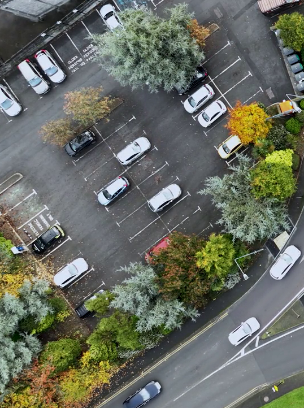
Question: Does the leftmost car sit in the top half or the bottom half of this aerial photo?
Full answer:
You can find the leftmost car in the top half.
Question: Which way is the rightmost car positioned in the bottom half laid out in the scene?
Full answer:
The rightmost car positioned in the bottom half runs diagonally in the image.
